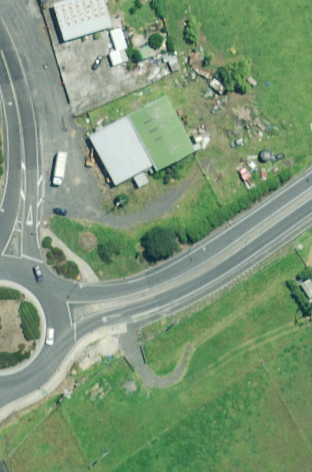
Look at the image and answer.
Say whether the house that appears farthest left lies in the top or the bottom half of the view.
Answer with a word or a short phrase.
top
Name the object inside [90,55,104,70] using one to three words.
vehicle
